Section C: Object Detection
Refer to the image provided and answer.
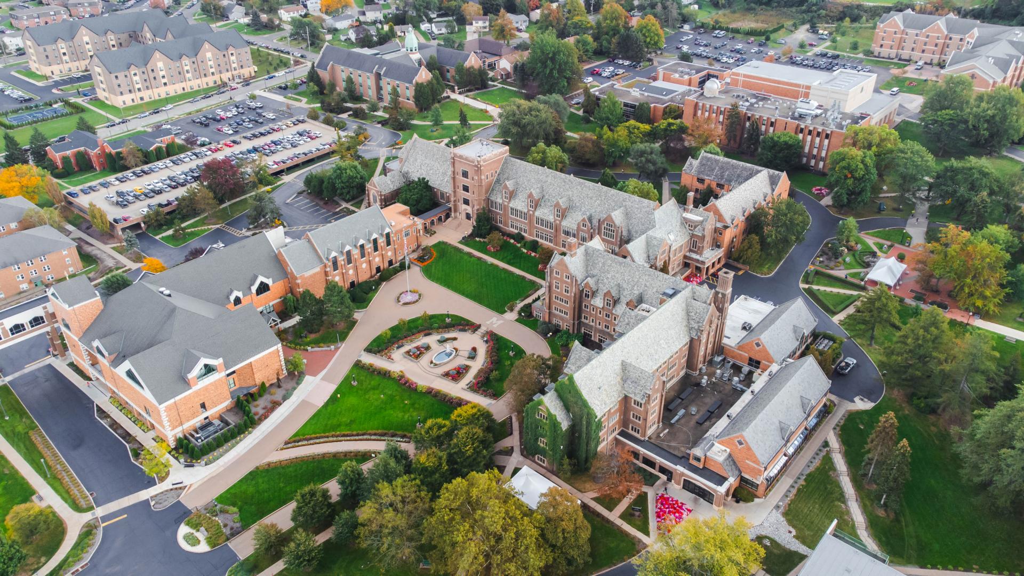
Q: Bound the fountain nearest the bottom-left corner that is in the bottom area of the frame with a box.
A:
[432,346,455,363]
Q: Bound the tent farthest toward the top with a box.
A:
[863,257,908,293]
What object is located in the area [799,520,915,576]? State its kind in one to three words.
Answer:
building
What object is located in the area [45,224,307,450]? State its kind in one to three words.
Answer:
building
